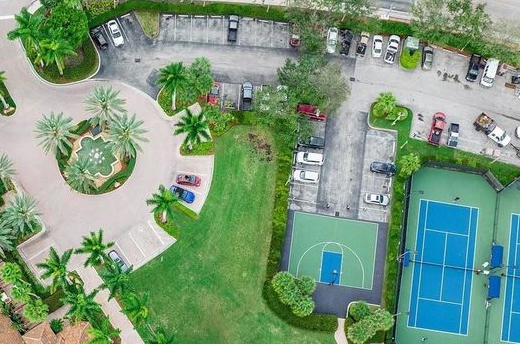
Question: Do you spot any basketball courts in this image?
Yes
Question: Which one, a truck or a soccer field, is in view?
truck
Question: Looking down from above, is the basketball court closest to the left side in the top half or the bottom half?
bottom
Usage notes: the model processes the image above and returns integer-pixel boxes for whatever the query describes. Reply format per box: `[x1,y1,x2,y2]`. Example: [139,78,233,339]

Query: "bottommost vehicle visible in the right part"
[363,193,390,207]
